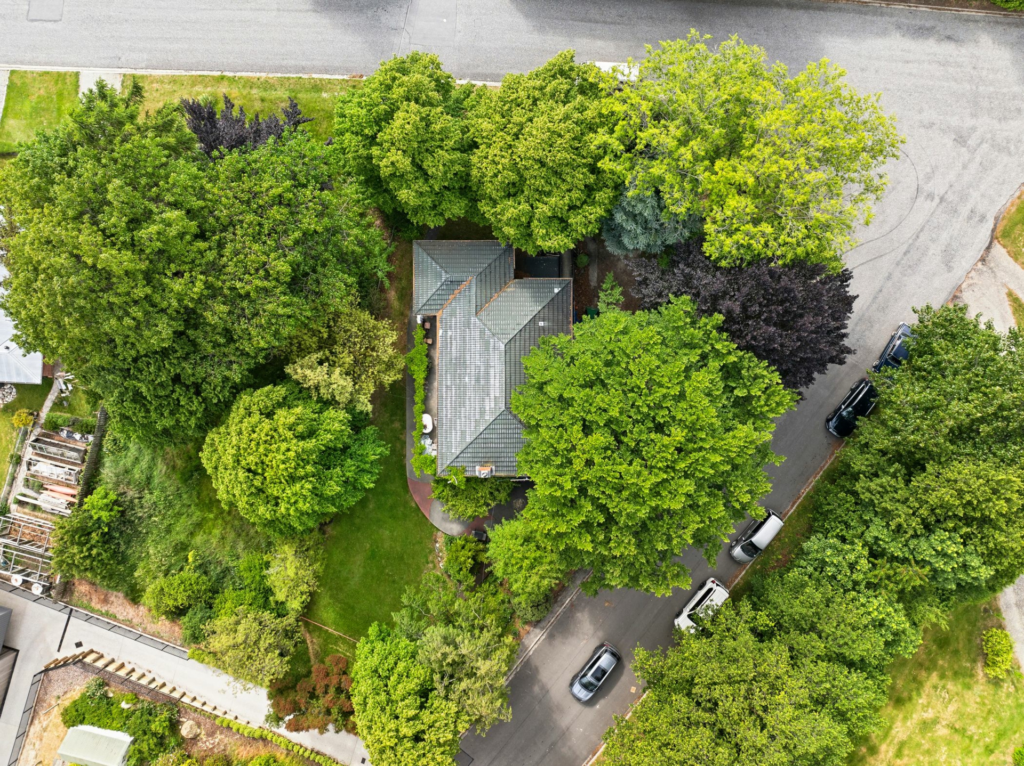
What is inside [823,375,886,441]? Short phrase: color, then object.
black car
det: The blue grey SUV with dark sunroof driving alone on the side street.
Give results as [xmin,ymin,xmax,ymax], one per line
[570,640,622,702]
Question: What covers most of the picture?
trees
